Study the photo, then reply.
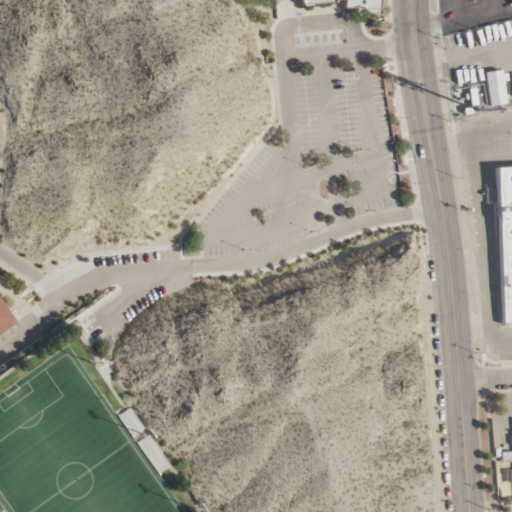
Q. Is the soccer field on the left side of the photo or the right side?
left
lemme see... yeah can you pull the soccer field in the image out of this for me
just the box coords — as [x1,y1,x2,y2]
[0,346,186,512]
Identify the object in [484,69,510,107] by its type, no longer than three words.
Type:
shed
